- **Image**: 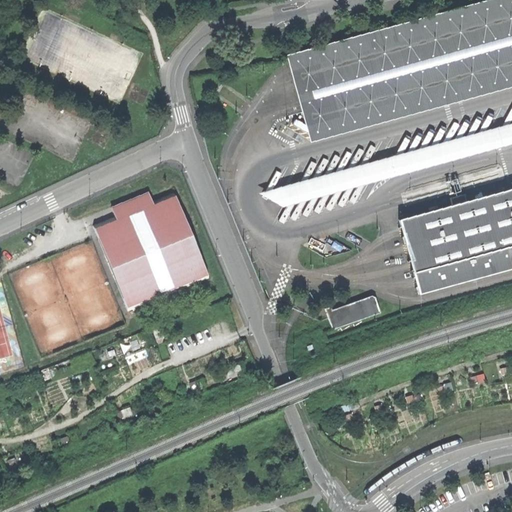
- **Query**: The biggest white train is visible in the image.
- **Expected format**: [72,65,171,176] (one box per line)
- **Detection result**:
[364,436,463,494]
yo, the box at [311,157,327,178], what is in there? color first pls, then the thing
white vehicle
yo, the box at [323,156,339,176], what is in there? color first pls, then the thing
white vehicle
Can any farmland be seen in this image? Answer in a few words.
No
